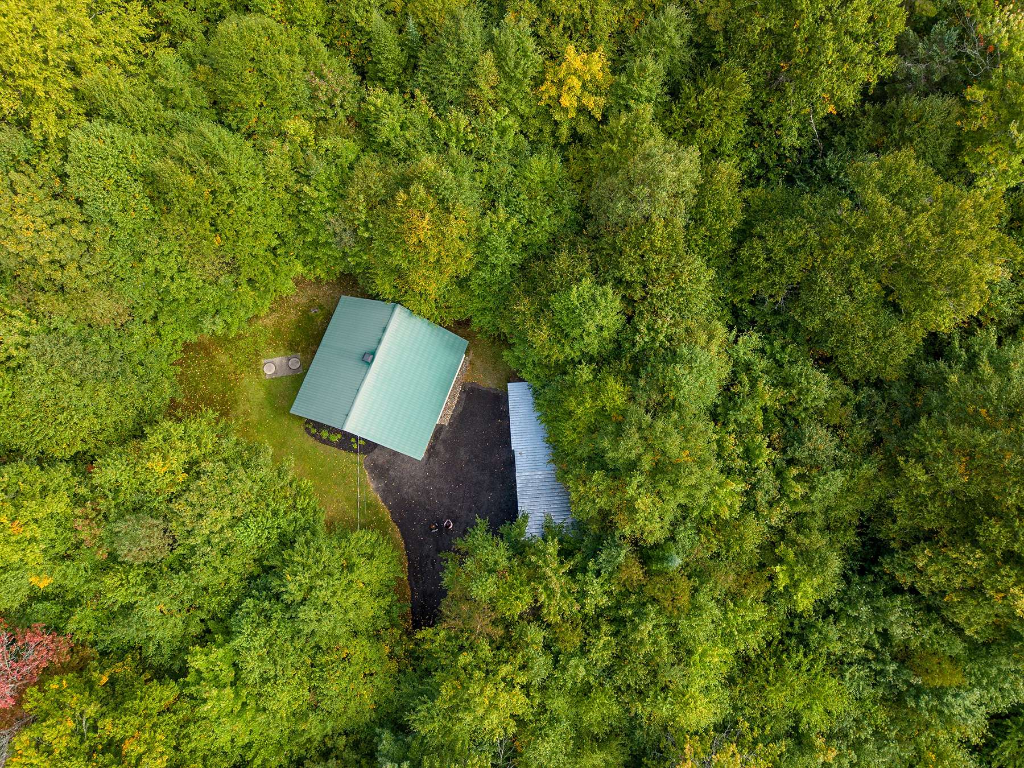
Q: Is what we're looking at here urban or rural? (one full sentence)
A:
The area is rural.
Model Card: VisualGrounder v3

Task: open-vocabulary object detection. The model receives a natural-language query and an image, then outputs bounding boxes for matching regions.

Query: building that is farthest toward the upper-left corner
[291,295,469,462]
